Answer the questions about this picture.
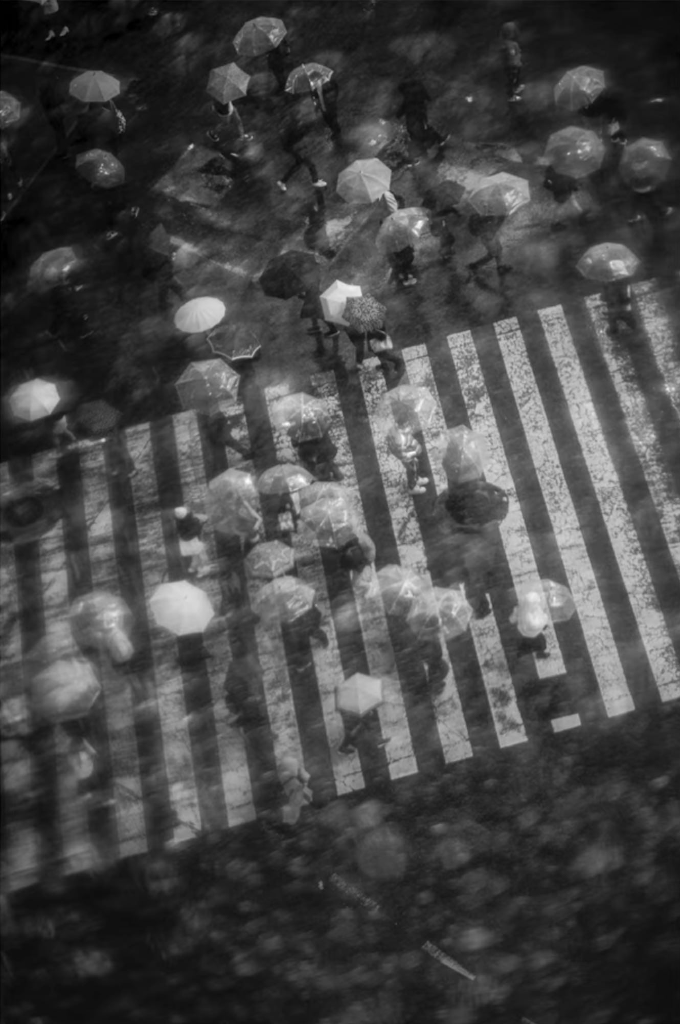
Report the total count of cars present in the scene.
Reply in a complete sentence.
The count of cars is 0.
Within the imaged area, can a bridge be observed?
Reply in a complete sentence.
No, I can see no bridge in this picture.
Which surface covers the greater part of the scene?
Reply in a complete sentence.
The scene is dominated by paved ground.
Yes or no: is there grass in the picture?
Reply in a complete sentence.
No, no grass is visible.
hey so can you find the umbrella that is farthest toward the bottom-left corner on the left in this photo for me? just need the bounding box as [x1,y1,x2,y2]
[32,660,100,724]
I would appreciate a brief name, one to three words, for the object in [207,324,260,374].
umbrella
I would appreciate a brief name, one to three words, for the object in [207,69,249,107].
umbrella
